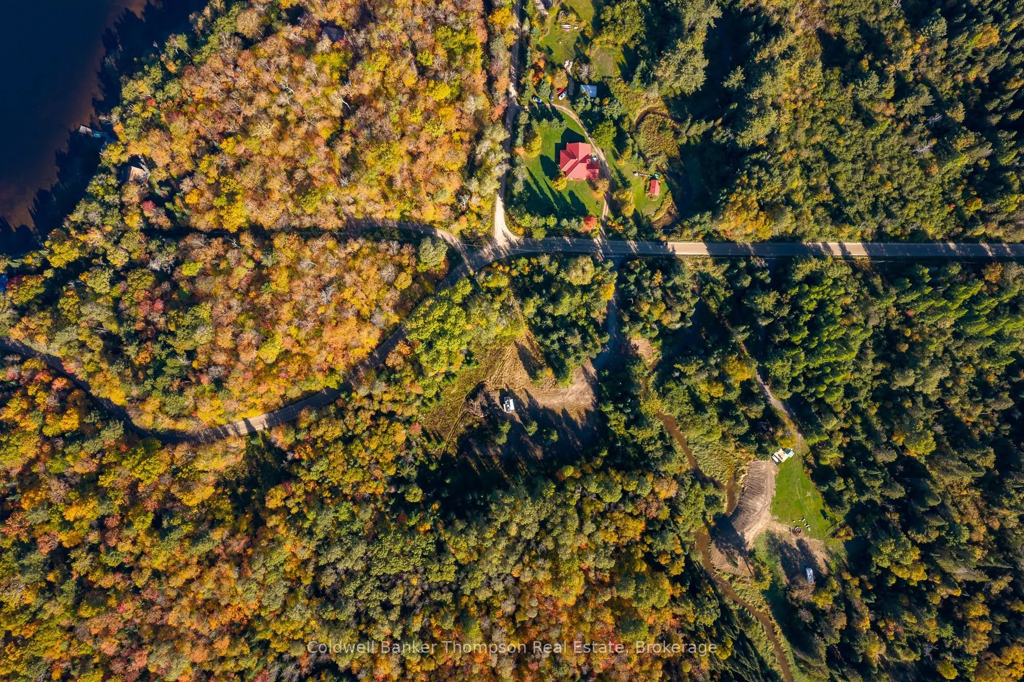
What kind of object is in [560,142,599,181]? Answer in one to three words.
house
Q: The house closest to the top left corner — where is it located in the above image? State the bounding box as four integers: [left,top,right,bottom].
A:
[121,162,145,183]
